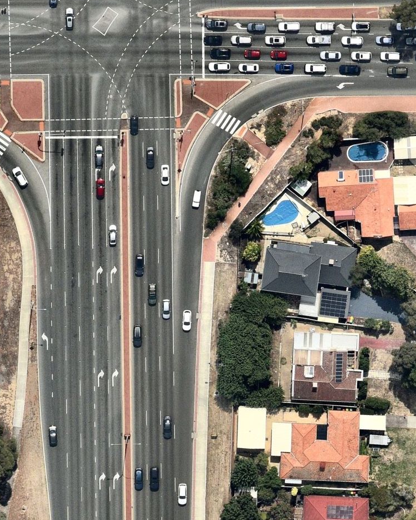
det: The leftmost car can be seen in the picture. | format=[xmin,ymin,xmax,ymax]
[12,166,29,189]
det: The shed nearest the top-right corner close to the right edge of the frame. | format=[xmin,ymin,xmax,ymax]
[393,136,416,160]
